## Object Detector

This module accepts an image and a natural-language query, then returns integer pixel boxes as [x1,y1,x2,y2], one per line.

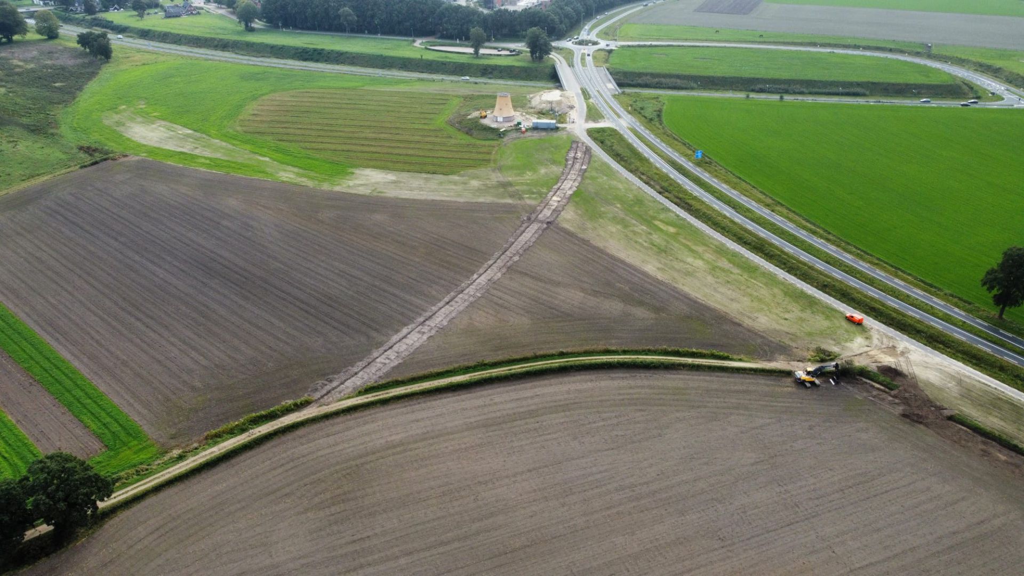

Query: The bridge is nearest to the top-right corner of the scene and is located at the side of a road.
[555,60,622,95]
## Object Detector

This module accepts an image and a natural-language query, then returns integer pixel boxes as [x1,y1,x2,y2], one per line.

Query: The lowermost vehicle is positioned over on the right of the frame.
[795,361,840,385]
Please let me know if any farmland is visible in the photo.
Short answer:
Yes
